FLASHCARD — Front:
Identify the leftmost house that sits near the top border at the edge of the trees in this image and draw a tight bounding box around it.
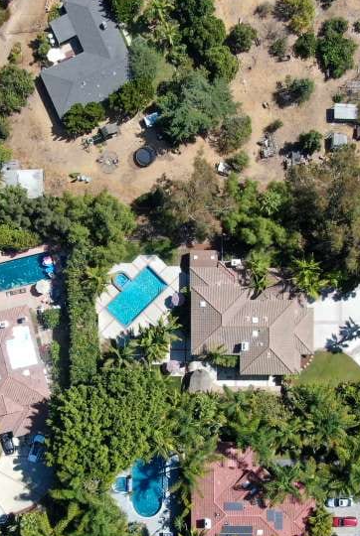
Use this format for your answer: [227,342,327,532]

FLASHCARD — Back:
[40,0,130,119]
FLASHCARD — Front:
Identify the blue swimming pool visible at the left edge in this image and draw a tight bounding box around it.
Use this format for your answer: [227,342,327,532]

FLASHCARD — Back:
[0,249,57,292]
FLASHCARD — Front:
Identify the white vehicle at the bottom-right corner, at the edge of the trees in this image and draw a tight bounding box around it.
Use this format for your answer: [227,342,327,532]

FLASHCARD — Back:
[327,497,354,510]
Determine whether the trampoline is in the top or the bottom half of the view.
top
